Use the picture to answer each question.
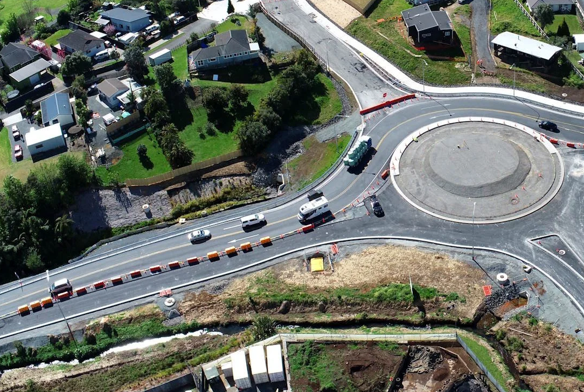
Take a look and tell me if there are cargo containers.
Yes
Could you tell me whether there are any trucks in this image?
Yes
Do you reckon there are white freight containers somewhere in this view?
Yes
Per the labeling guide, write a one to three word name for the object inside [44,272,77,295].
vehicle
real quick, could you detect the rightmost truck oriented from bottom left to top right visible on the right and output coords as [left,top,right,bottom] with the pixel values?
[339,128,374,168]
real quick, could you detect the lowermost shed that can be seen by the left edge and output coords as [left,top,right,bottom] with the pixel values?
[22,122,65,159]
